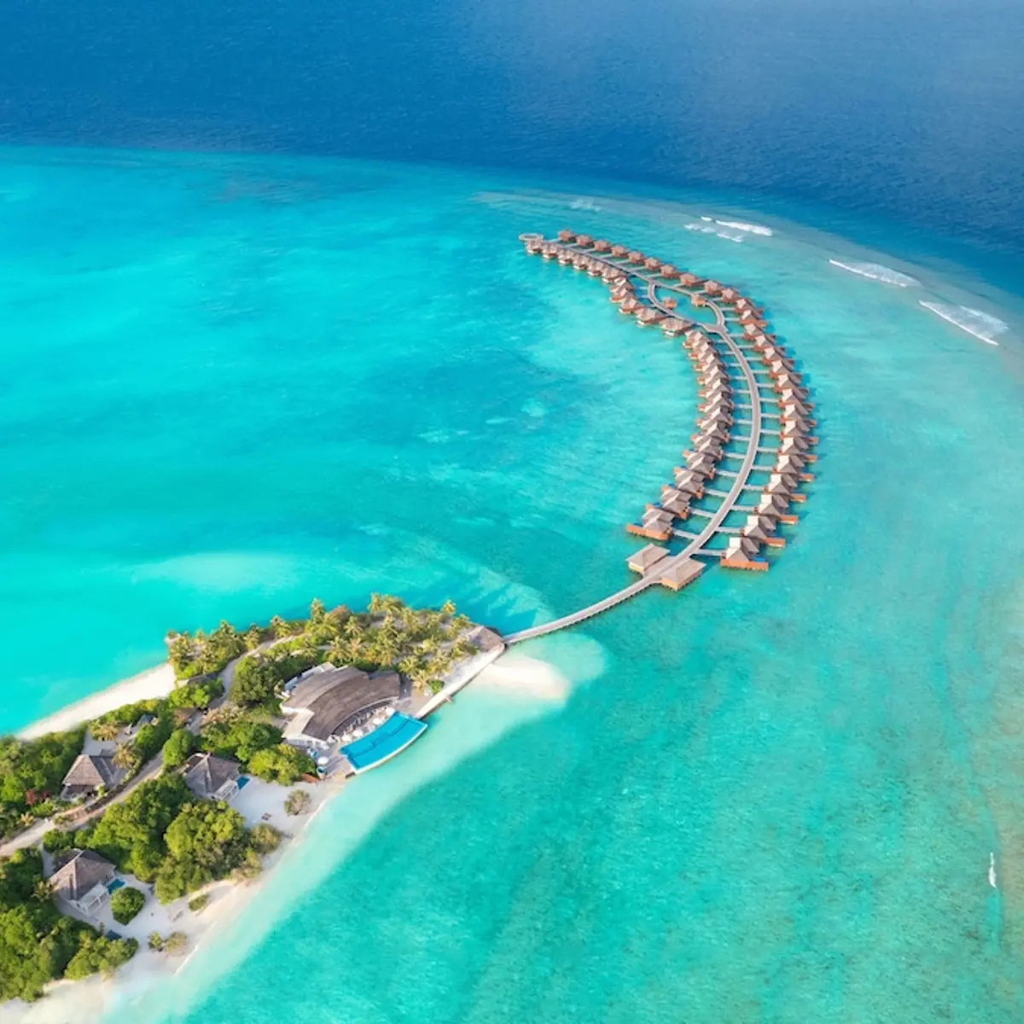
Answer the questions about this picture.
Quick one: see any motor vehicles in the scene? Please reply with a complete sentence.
No, there's no motor vehicle here.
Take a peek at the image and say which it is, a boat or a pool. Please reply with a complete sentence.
The image shows a pool.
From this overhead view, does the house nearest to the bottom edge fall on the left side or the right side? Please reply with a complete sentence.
The house nearest to the bottom edge sits on the left side.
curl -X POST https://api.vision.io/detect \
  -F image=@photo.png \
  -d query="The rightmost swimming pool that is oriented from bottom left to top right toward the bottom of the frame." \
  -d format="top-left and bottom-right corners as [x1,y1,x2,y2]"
[339,710,428,777]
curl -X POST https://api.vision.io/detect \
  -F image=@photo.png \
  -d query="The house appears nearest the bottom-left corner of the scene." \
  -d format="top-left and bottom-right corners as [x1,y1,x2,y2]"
[46,848,113,914]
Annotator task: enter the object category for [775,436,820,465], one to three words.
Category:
house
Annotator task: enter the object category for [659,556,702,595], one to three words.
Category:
building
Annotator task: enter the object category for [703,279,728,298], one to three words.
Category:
house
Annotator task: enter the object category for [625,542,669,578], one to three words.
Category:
building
